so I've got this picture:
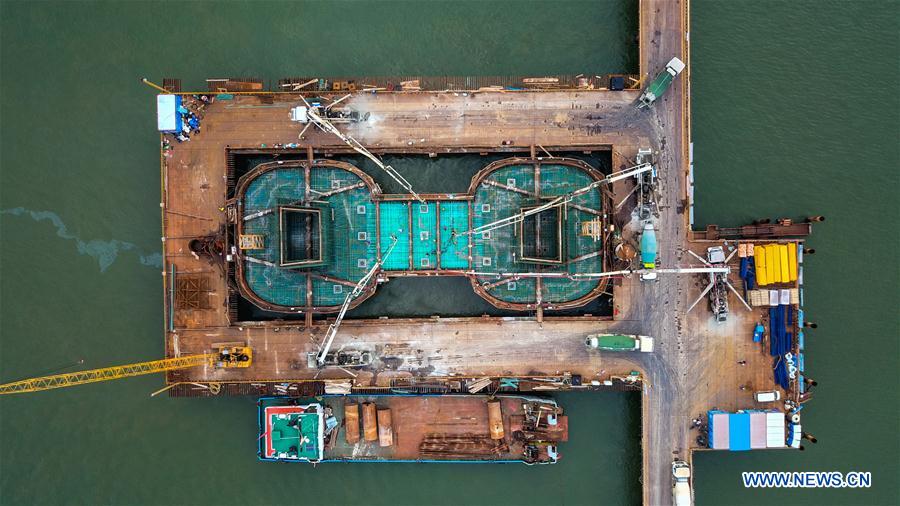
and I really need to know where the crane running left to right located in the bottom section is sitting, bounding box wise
[0,343,255,396]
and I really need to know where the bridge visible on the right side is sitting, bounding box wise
[631,0,696,506]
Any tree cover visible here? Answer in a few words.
No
